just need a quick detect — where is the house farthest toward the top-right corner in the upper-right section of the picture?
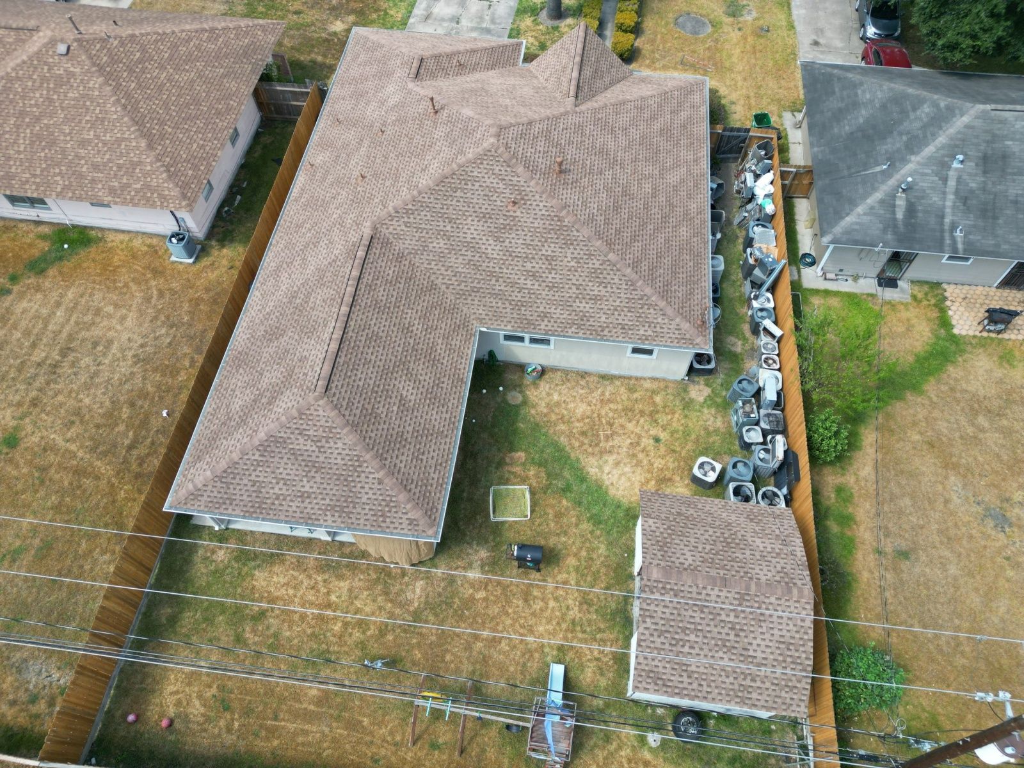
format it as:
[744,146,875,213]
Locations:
[794,60,1024,295]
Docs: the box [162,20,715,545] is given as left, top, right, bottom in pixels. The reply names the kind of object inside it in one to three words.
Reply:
house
